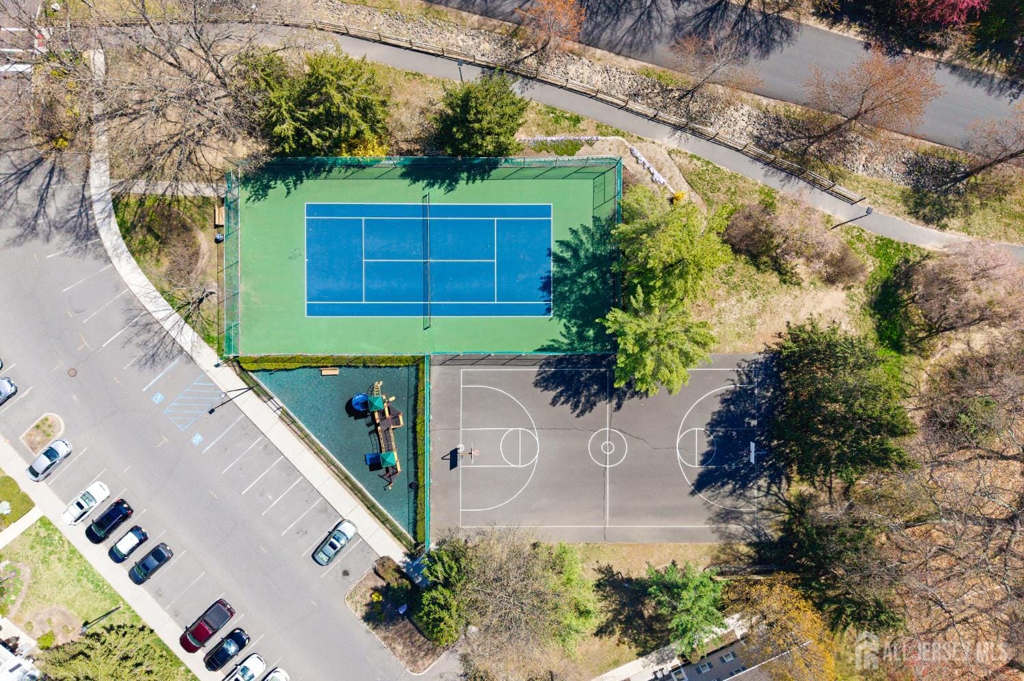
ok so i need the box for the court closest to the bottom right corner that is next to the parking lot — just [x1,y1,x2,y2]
[427,352,779,544]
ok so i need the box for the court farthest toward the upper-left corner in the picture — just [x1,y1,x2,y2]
[239,167,616,354]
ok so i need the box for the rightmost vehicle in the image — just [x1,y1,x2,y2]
[311,522,356,570]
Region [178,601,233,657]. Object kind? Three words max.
truck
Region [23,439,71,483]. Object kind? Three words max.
car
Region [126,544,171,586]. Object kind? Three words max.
car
